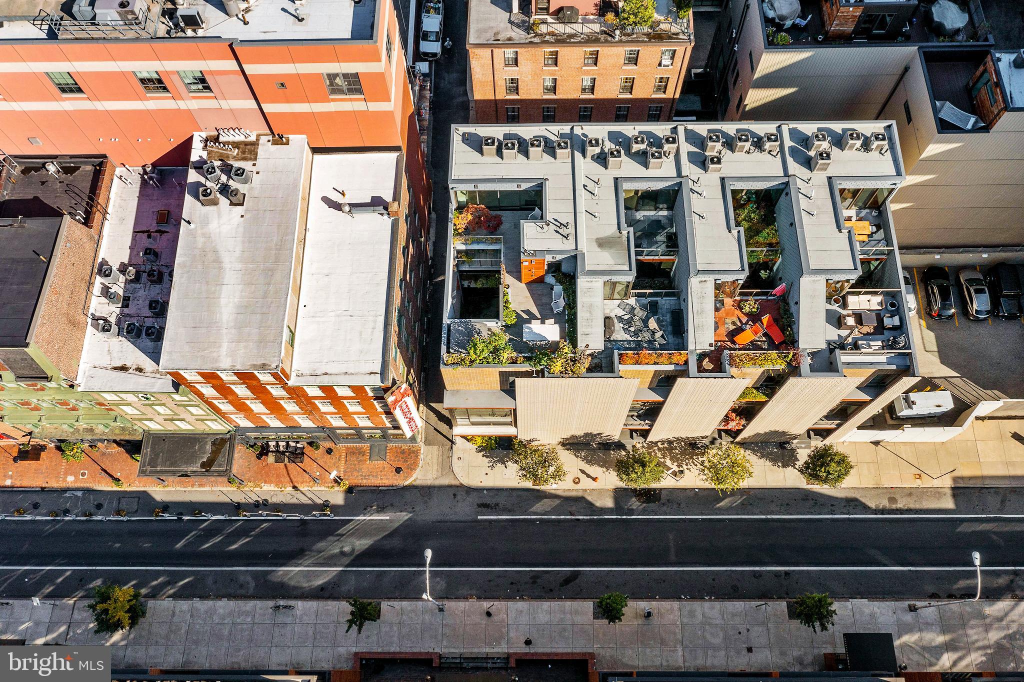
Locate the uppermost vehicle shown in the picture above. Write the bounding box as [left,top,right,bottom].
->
[417,0,445,62]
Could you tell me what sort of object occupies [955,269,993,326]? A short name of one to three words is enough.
car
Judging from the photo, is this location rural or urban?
urban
